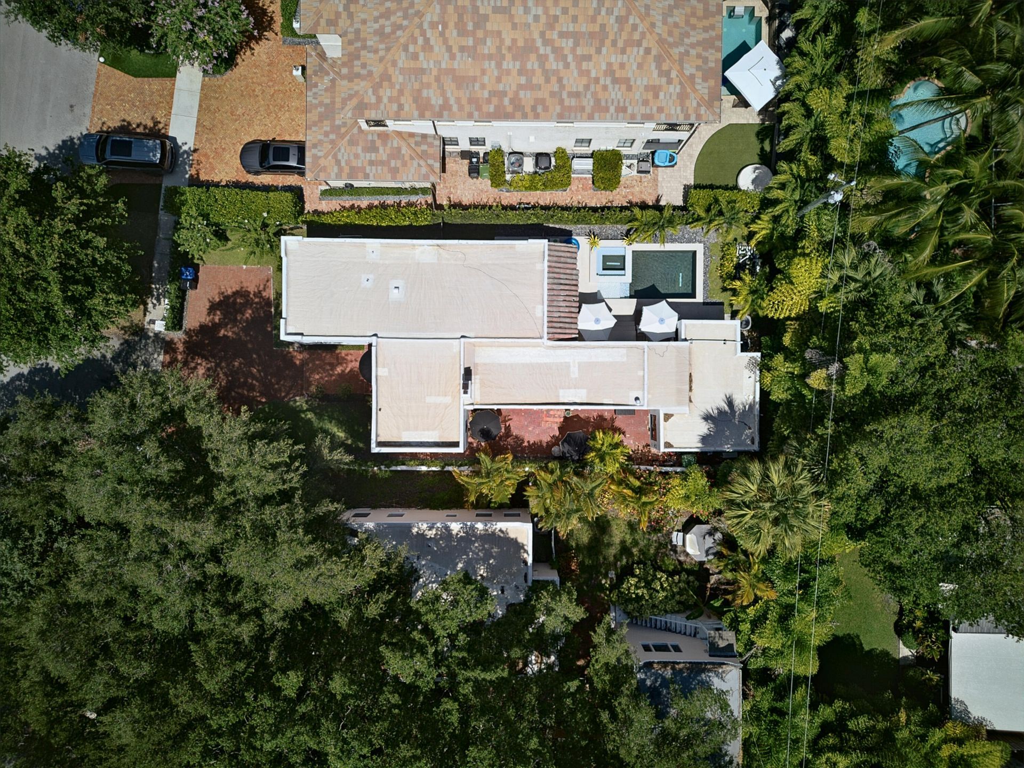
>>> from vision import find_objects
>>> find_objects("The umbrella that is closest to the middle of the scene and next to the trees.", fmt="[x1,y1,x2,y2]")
[470,410,501,440]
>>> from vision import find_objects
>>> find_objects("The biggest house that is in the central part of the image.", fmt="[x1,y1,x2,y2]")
[281,235,760,452]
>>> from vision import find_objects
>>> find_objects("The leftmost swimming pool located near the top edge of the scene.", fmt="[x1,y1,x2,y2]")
[722,8,761,96]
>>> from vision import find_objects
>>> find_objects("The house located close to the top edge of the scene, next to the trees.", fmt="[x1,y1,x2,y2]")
[297,0,722,188]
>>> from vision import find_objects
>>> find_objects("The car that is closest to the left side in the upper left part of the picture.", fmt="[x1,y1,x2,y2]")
[82,129,177,178]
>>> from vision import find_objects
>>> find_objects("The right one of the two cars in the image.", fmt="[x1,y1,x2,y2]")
[241,134,305,179]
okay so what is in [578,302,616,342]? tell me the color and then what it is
white umbrella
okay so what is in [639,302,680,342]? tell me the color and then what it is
white umbrella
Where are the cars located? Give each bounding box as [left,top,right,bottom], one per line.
[241,134,305,179]
[82,129,177,178]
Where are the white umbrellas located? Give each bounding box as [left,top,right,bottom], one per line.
[723,40,793,111]
[578,302,616,342]
[639,302,680,342]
